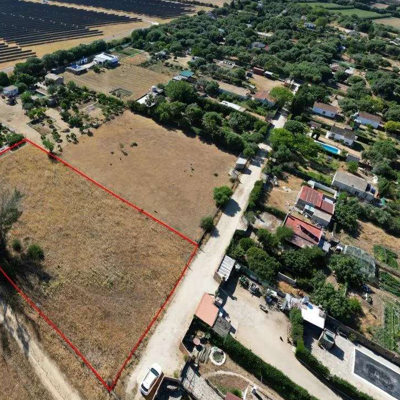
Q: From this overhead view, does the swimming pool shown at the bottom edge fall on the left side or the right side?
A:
right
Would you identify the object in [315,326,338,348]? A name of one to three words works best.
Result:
shed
